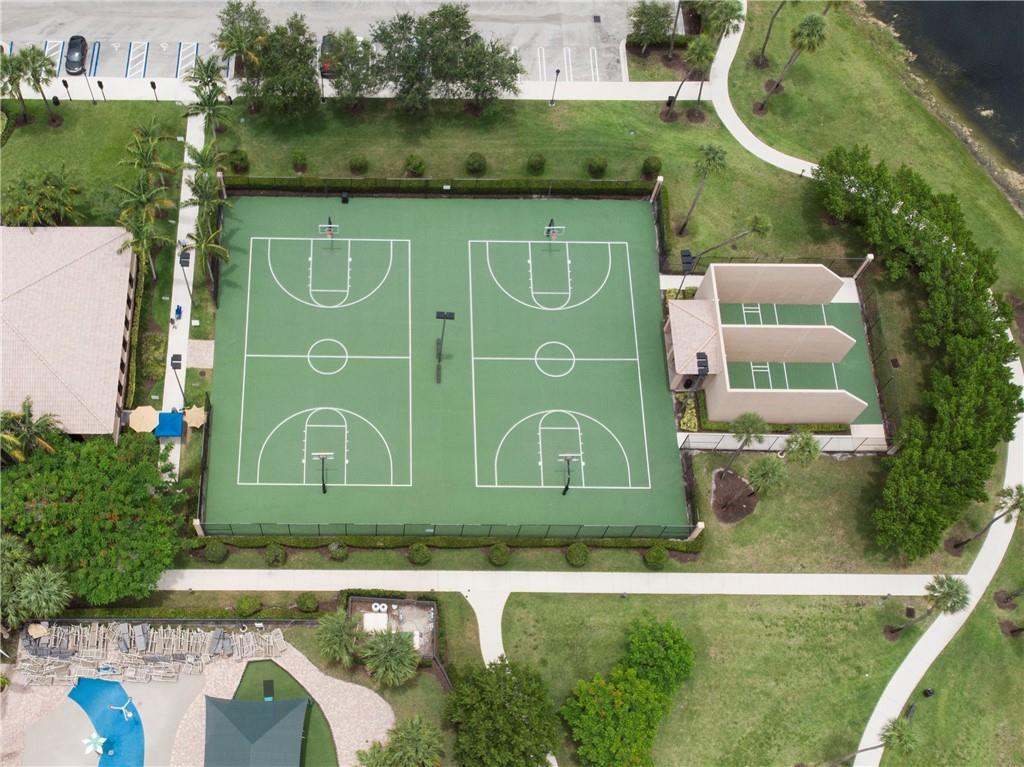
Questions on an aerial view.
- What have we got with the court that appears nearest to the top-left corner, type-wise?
basketball court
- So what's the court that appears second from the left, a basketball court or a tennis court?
basketball court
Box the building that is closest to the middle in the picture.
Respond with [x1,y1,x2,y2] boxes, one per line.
[662,299,715,390]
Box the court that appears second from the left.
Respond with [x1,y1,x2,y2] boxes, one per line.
[431,197,690,535]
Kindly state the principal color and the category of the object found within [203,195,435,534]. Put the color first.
green basketball court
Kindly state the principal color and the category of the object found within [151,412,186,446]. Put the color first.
blue tent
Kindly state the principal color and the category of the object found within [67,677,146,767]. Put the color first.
blue swimming pool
